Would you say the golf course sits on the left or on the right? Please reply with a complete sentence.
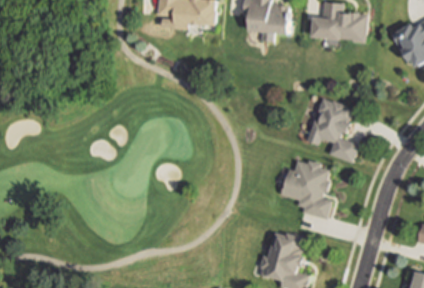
It is on the left.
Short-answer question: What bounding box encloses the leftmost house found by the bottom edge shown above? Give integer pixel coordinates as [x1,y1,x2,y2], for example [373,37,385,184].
[260,231,311,288]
